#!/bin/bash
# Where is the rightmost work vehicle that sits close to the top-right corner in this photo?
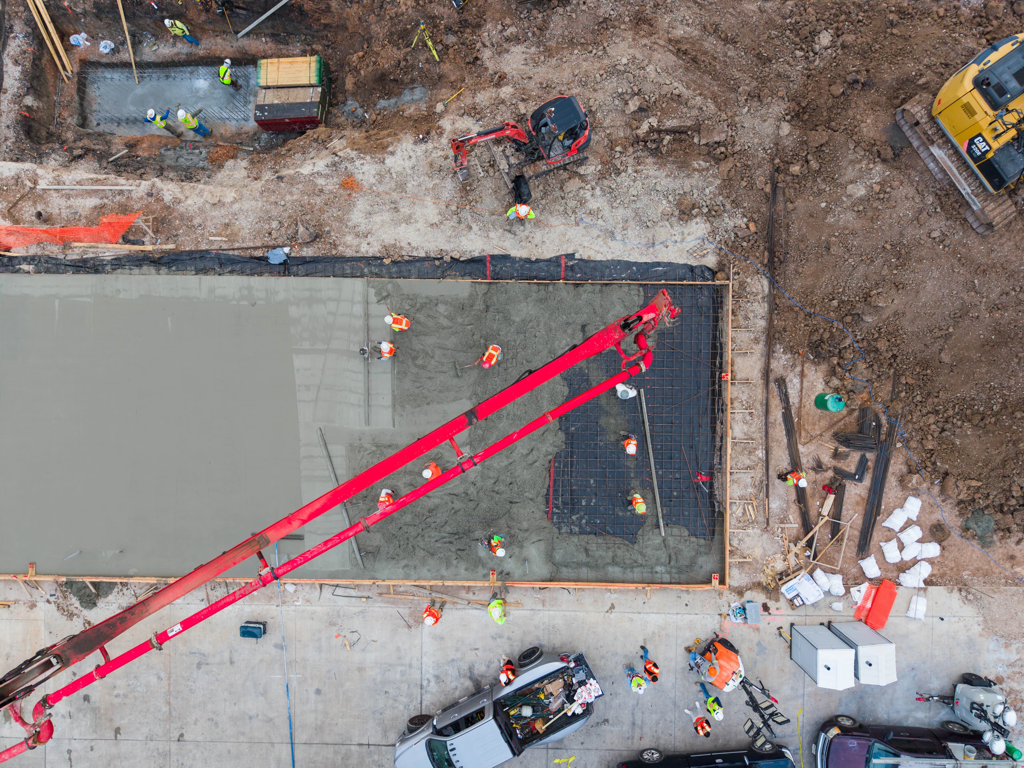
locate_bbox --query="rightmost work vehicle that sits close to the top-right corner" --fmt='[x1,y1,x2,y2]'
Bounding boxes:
[886,27,1024,239]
